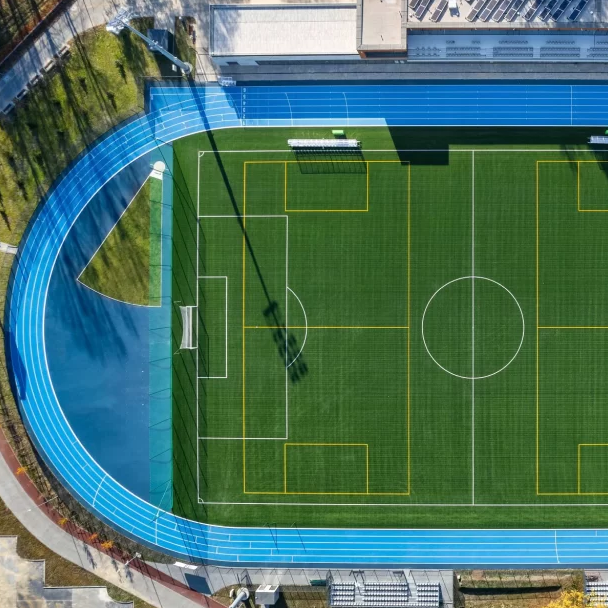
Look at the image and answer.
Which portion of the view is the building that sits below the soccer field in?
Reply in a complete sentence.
The building that sits below the soccer field sits in the bottom section of the image.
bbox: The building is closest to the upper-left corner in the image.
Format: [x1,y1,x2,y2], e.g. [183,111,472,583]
[147,30,175,55]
